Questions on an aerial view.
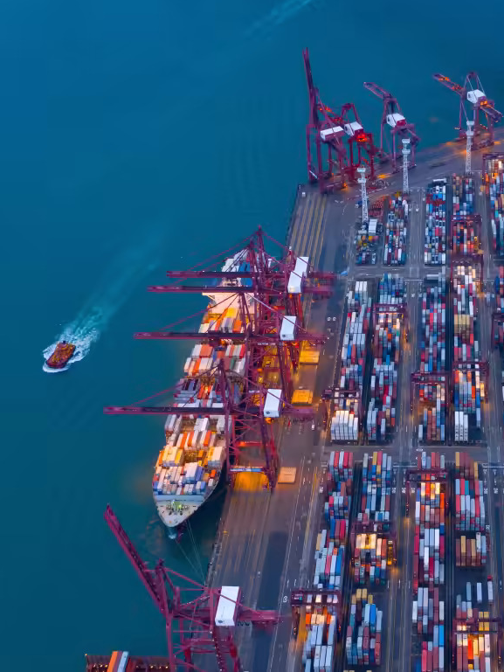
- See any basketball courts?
No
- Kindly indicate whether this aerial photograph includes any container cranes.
Yes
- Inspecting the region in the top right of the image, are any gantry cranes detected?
Yes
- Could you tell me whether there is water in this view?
Yes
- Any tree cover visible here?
No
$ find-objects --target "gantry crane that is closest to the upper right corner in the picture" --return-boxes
[431,69,498,151]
